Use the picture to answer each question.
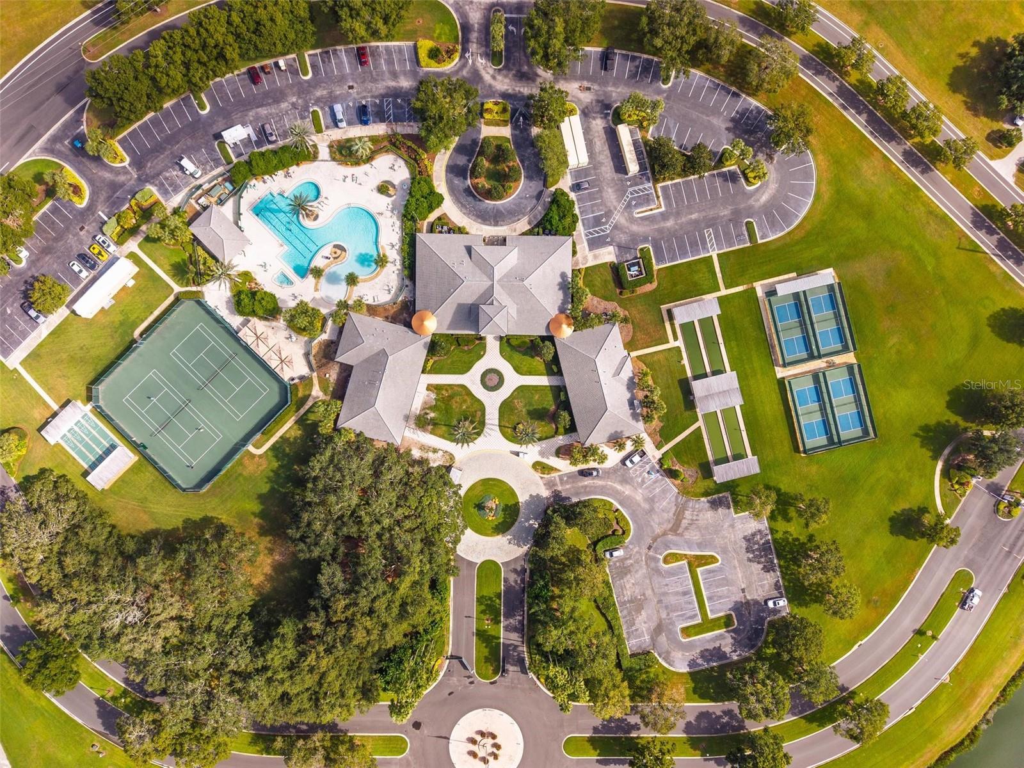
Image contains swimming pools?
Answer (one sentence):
Yes, a swimming pool is visible in the scene.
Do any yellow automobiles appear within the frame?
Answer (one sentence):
Yes, there's a yellow automobile down there.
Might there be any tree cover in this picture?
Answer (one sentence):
Yes, the picture does contain tree cover.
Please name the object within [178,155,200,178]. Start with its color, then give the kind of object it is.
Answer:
white vehicle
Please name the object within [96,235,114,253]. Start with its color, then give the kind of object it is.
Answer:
white car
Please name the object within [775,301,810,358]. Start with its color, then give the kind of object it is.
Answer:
blue sports court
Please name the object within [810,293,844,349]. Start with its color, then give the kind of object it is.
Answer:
blue sports court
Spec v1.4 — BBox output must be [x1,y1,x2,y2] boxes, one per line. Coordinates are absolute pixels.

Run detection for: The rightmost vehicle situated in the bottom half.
[962,588,979,612]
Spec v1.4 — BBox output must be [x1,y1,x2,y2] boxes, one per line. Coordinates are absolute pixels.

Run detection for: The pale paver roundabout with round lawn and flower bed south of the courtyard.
[435,450,546,563]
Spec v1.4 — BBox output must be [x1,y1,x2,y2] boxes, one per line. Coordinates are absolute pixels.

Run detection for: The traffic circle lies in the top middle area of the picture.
[468,99,524,203]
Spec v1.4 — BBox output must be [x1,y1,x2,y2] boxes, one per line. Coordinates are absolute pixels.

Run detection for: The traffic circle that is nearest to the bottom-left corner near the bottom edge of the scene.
[449,708,524,768]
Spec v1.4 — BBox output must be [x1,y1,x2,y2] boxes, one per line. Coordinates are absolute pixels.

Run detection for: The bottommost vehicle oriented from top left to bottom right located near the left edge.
[21,302,45,323]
